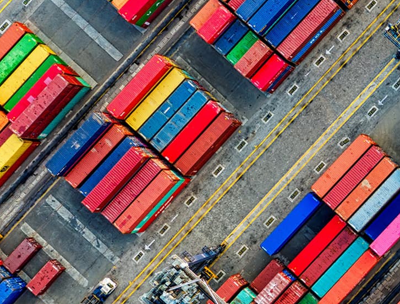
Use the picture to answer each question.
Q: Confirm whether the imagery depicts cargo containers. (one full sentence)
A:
Yes, looking at the shot, I can spot a cargo container.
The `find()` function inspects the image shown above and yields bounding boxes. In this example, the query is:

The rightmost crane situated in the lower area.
[135,231,251,304]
